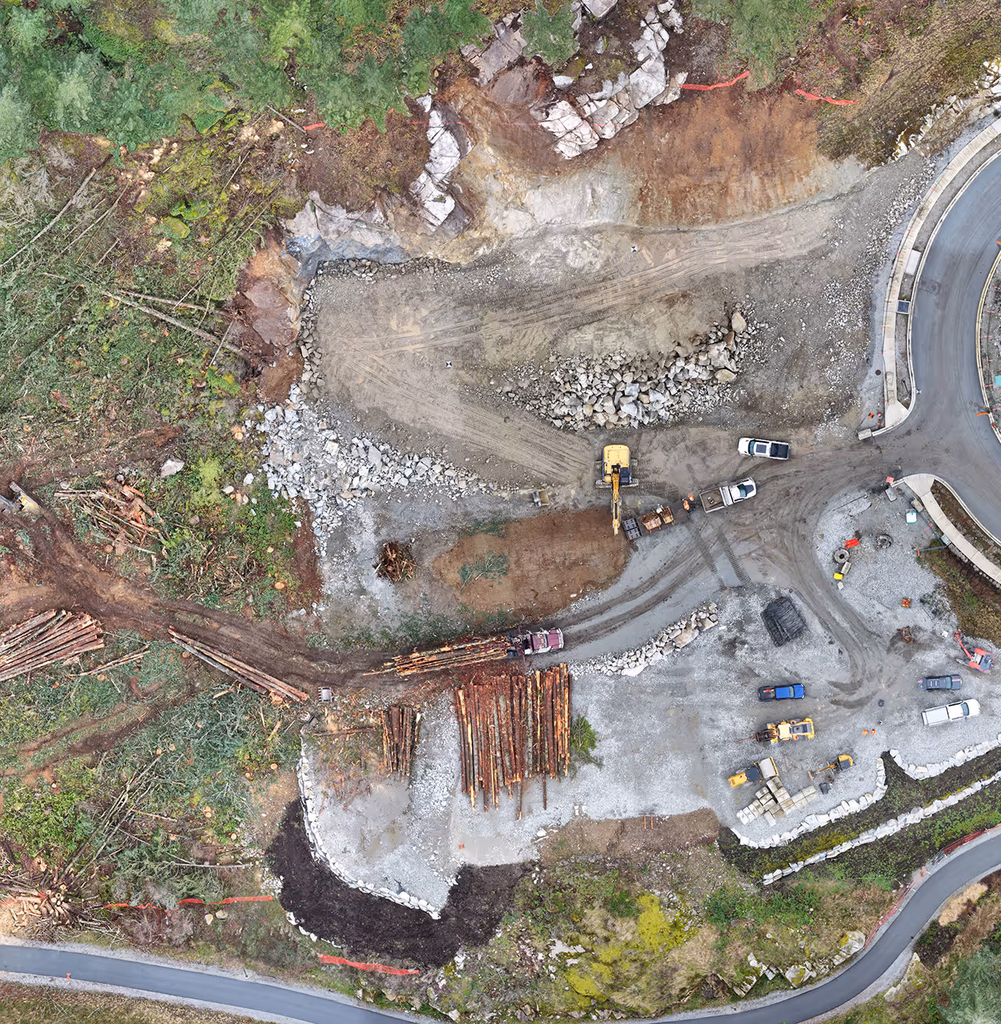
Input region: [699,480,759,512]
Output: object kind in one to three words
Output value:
truck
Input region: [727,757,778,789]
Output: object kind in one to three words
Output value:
work vehicle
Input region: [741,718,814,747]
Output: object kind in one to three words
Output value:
work vehicle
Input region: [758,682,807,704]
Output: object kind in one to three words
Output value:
truck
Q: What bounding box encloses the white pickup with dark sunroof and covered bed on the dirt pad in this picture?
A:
[738,436,791,459]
